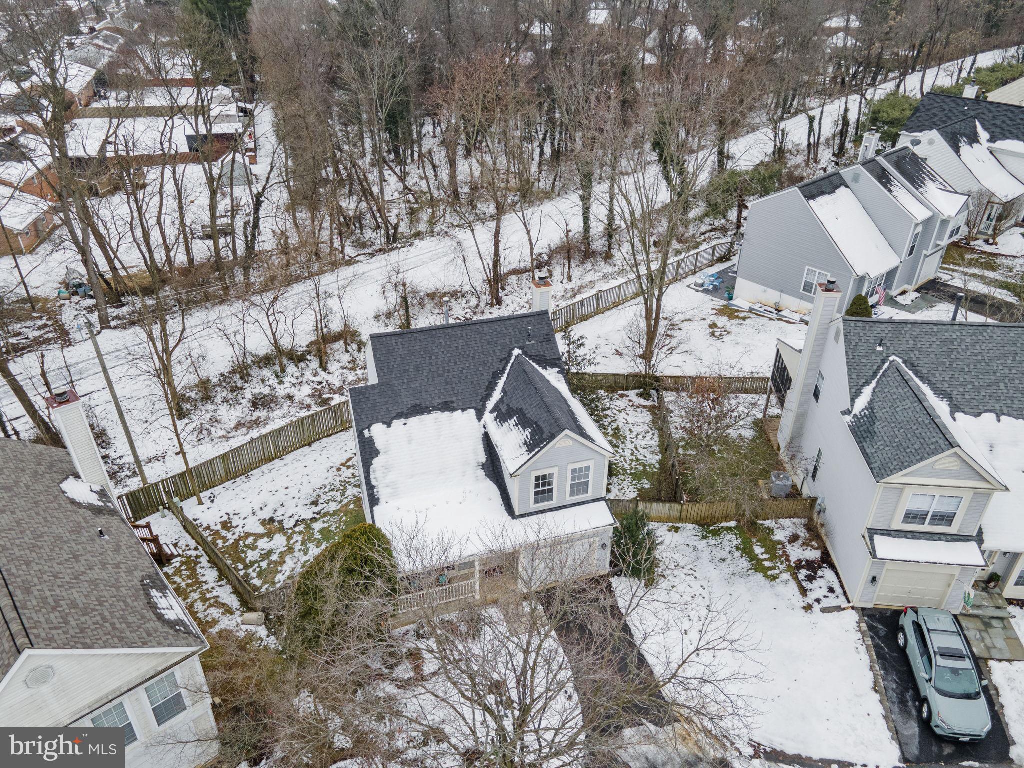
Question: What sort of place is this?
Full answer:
The area seen from above is a residential area.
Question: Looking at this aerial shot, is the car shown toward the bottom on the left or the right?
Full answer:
You can find the car shown toward the bottom on the right side of the picture.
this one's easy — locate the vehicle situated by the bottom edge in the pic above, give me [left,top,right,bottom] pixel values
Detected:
[902,604,1001,754]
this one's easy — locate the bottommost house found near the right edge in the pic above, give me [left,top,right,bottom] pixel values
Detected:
[773,271,1024,614]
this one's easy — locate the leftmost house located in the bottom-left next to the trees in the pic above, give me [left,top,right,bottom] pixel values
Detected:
[0,382,223,768]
